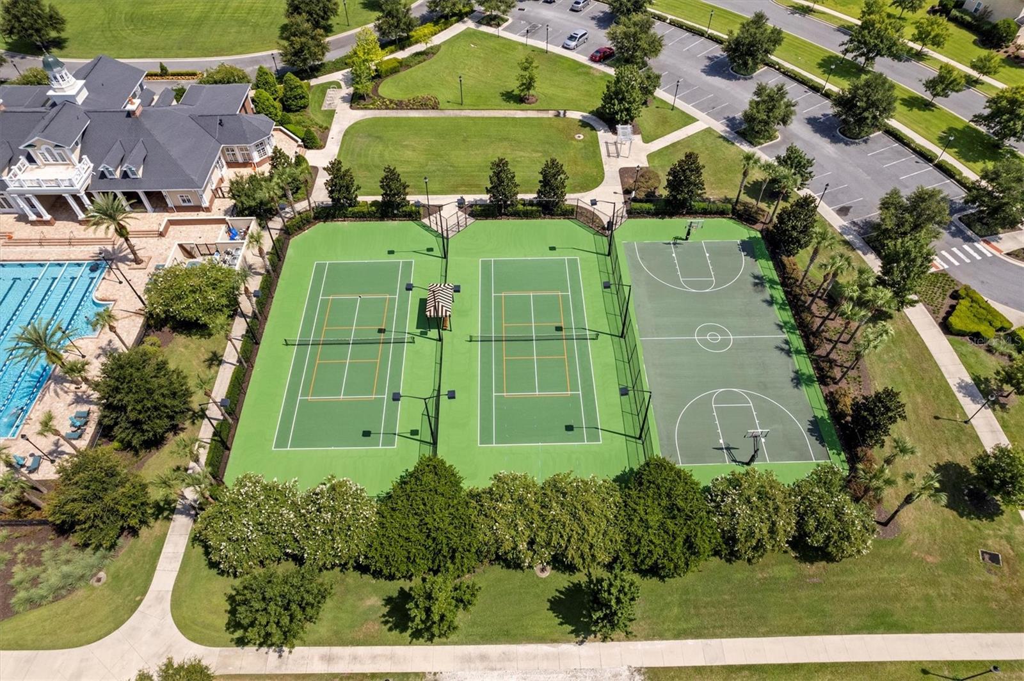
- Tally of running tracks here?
none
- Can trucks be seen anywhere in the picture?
No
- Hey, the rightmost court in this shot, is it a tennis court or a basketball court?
basketball court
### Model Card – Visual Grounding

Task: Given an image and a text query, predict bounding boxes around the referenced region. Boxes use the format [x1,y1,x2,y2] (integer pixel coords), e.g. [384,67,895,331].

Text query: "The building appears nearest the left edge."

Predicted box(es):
[0,35,278,219]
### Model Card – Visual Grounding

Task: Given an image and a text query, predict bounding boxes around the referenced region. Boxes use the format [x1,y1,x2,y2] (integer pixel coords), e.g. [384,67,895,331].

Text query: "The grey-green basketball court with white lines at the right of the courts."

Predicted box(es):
[607,218,849,491]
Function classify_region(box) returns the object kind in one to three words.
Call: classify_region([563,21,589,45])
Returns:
car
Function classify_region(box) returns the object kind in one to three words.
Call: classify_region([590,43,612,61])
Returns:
car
